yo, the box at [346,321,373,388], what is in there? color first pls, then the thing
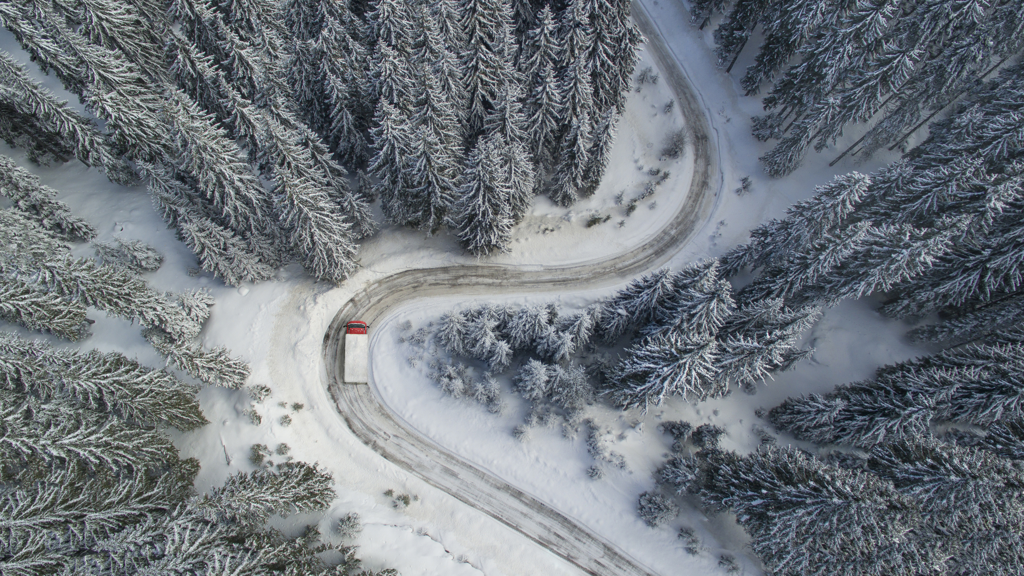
white truck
